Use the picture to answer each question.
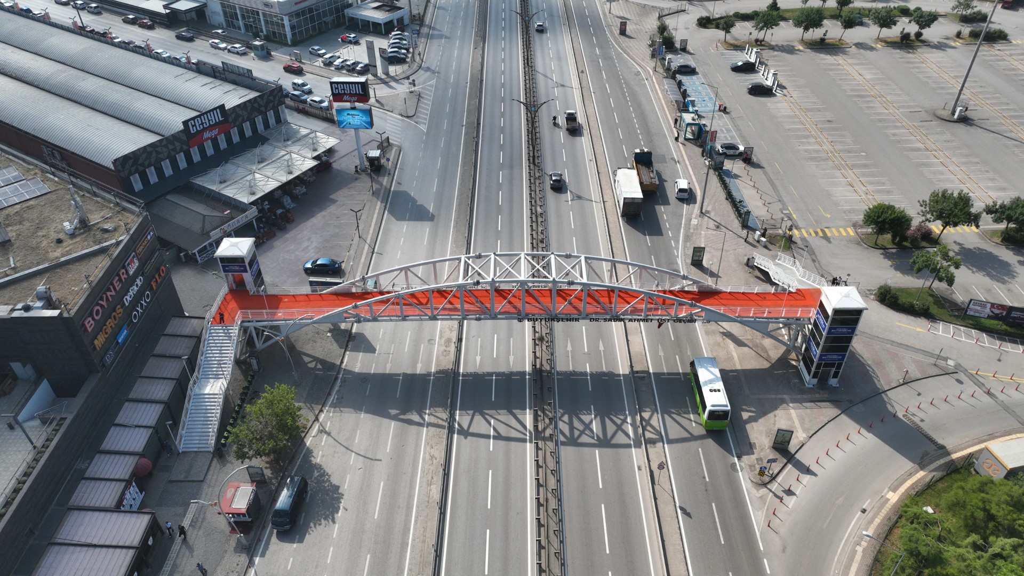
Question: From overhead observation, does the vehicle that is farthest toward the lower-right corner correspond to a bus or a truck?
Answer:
bus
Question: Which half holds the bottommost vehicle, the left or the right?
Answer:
left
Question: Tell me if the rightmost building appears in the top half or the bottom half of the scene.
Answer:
bottom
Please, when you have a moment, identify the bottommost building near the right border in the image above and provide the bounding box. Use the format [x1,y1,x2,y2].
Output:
[975,437,1024,487]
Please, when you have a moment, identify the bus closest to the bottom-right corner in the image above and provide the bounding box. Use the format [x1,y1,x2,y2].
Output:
[684,348,735,431]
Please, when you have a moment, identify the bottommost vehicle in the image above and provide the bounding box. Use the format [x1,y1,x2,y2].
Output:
[264,465,313,532]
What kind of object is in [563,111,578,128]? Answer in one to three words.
vehicle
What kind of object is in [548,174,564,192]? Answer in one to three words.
car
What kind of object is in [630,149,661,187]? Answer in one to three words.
truck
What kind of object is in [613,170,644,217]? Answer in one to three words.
truck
